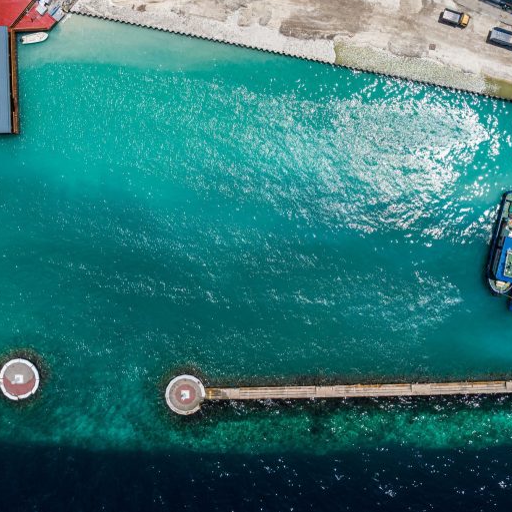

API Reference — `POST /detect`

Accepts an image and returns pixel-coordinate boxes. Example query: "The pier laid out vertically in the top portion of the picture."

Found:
[0,31,23,135]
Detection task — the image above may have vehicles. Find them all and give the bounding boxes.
[438,6,472,26]
[488,24,512,45]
